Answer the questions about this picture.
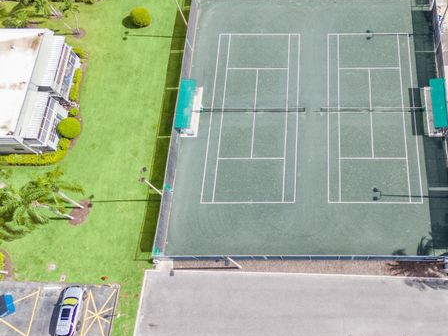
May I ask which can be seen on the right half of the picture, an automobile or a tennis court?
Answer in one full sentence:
Looking on the right half of the picture, you will find a tennis court.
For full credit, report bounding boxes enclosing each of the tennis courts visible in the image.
[311,0,448,259]
[166,0,314,259]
